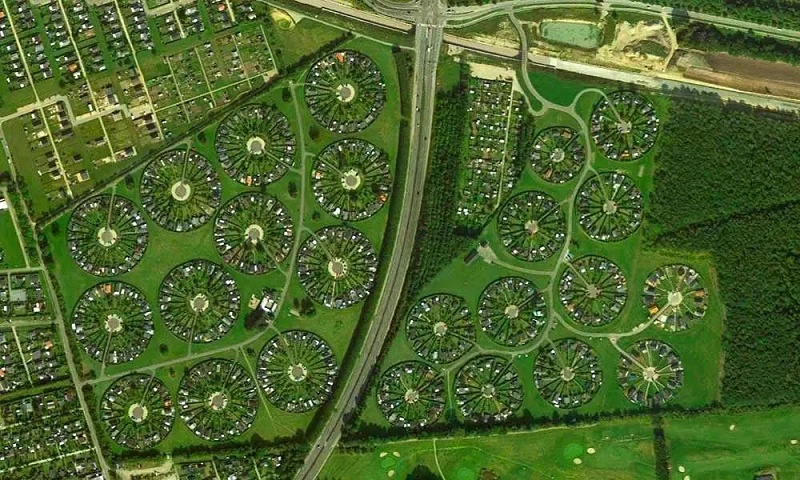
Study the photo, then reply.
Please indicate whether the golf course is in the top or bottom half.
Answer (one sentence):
You can find the golf course in the bottom half.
